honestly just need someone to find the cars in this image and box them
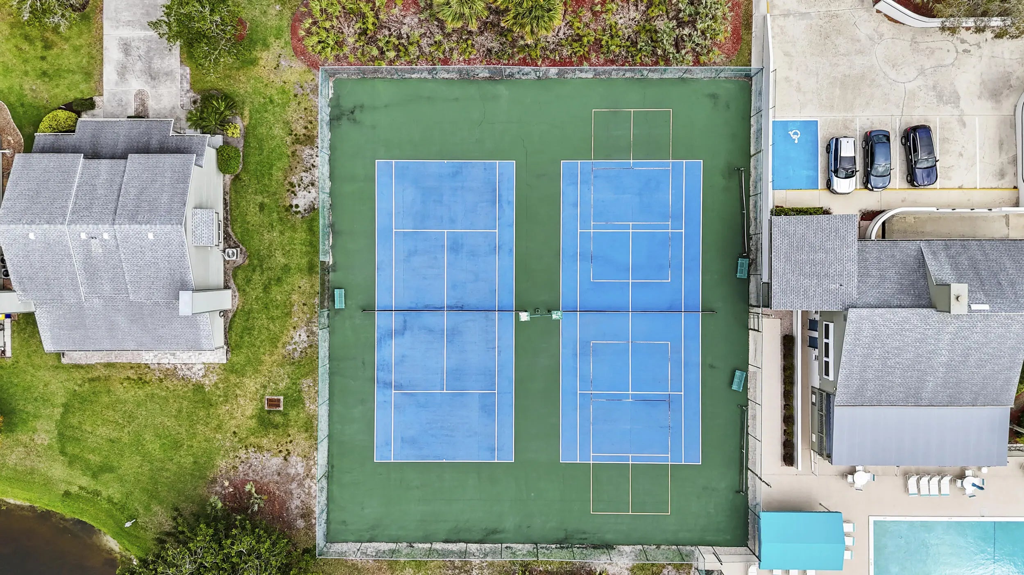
[860,129,893,192]
[901,128,939,192]
[825,135,858,195]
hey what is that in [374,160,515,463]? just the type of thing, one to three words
tennis court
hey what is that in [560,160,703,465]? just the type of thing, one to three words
tennis court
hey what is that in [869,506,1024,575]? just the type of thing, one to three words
swimming pool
